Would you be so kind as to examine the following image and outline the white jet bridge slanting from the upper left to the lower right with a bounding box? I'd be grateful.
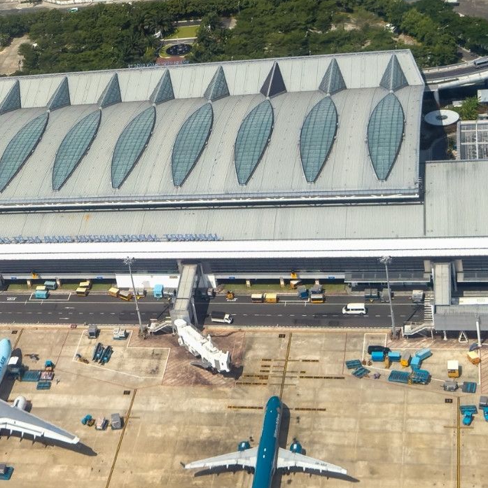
[171,318,239,380]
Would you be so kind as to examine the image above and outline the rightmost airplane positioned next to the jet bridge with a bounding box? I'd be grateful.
[181,397,346,488]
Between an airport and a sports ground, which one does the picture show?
airport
